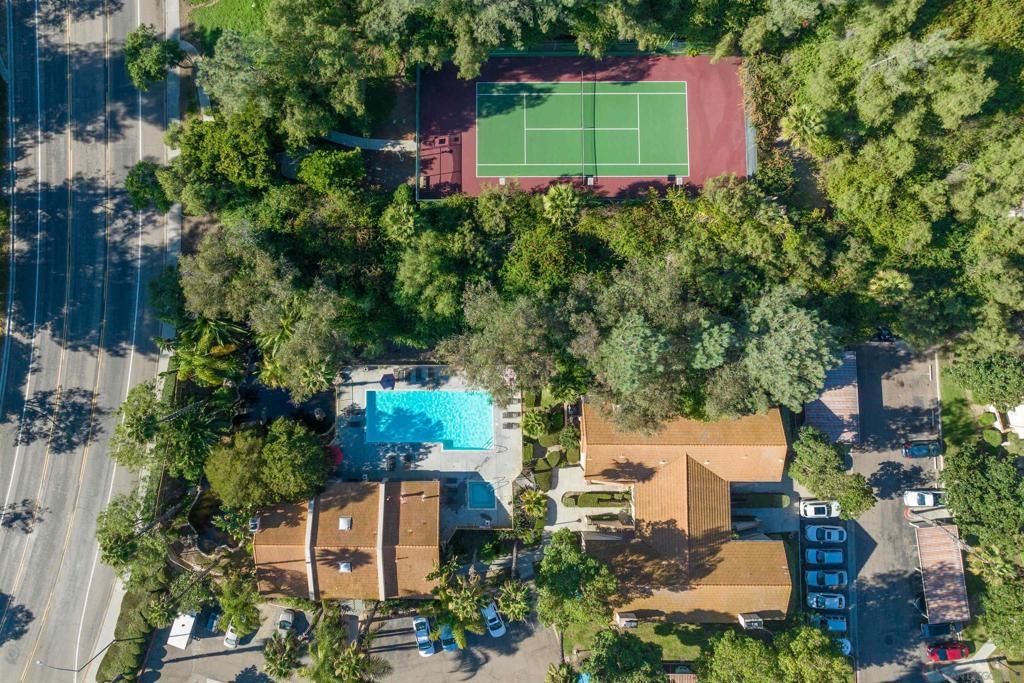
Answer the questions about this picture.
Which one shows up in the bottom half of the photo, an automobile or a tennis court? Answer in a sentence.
Visible in the bottom half of the photo is an automobile.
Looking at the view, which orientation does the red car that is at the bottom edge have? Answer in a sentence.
The red car that is at the bottom edge has been laid out horizontally relative to the frame.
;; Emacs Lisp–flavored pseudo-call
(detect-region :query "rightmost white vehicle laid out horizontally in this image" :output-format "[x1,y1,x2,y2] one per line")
[901,490,948,509]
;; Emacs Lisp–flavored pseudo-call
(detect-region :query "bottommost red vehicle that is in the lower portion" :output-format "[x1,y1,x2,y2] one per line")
[926,641,967,662]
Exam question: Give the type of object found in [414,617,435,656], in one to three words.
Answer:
car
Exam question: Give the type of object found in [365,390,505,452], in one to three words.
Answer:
swimming pool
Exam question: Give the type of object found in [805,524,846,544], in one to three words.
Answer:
car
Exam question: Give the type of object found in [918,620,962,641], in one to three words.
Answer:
vehicle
